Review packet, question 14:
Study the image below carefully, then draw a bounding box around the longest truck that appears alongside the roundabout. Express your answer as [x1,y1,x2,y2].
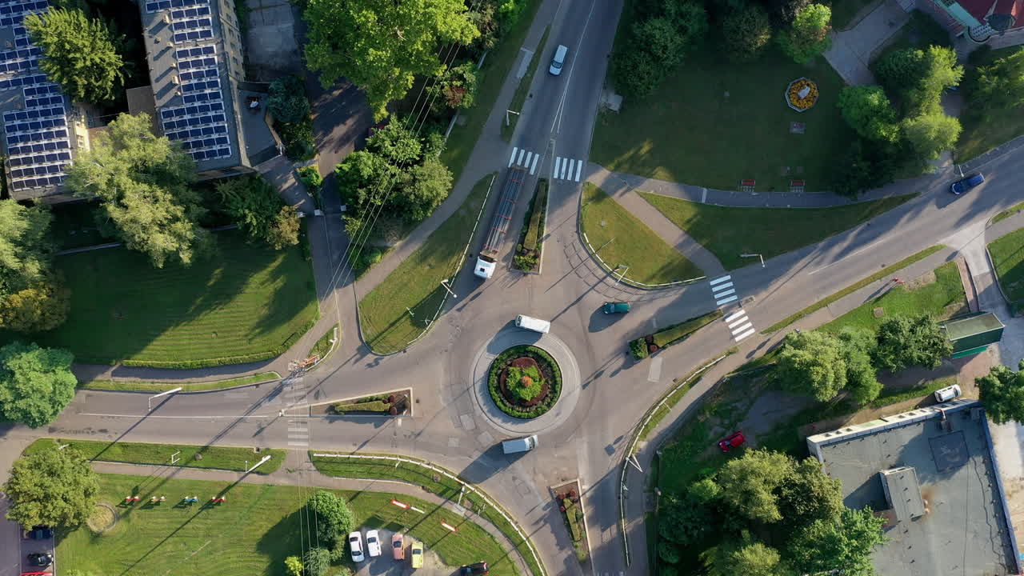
[470,163,528,276]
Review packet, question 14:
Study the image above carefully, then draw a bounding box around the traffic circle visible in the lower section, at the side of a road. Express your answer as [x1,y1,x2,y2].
[470,326,581,436]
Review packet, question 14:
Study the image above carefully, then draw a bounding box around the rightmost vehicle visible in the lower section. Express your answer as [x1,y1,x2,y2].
[931,383,960,402]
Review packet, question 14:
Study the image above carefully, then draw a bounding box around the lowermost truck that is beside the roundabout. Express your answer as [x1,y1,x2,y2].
[503,434,540,455]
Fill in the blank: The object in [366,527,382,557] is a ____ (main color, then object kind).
white car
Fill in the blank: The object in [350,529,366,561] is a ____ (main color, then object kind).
white car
